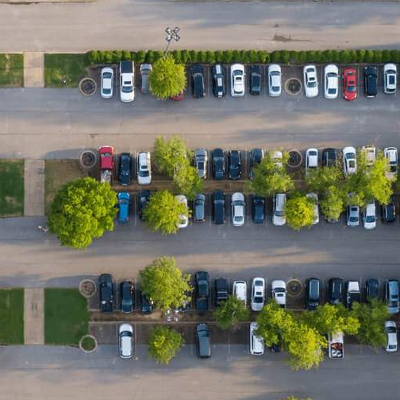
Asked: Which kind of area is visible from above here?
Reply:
parking lot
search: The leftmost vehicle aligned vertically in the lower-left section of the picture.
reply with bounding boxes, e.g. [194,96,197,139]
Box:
[98,274,114,312]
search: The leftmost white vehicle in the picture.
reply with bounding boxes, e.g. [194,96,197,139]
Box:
[98,67,114,99]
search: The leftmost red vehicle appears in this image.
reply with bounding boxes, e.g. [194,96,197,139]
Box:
[98,145,113,183]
